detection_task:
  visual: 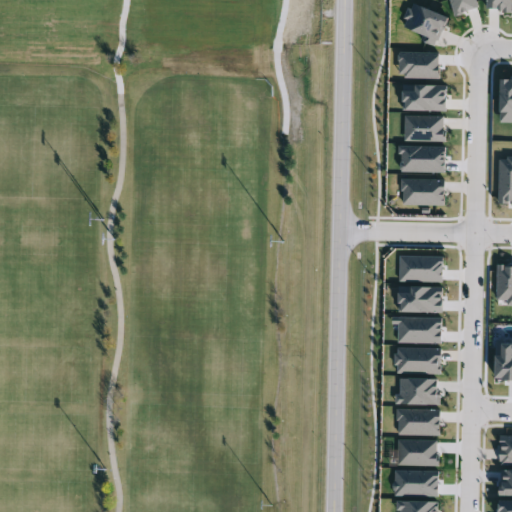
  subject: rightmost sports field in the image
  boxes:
[127,75,268,512]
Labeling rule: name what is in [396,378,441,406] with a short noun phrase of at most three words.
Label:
house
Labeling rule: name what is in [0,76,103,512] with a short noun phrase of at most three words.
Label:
sports field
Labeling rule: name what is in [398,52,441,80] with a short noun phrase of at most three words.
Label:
house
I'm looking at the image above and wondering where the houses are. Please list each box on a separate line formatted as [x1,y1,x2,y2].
[394,347,442,375]
[396,408,440,437]
[398,286,443,313]
[400,254,444,282]
[494,342,512,382]
[398,440,440,467]
[398,52,441,80]
[497,500,512,512]
[487,0,512,14]
[498,436,512,463]
[498,157,512,205]
[404,115,446,142]
[497,468,512,497]
[403,4,447,47]
[396,146,446,173]
[402,84,447,112]
[452,0,482,22]
[391,470,440,498]
[398,316,442,344]
[396,378,441,406]
[496,264,512,304]
[400,178,445,206]
[499,78,512,123]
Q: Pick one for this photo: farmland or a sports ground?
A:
sports ground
